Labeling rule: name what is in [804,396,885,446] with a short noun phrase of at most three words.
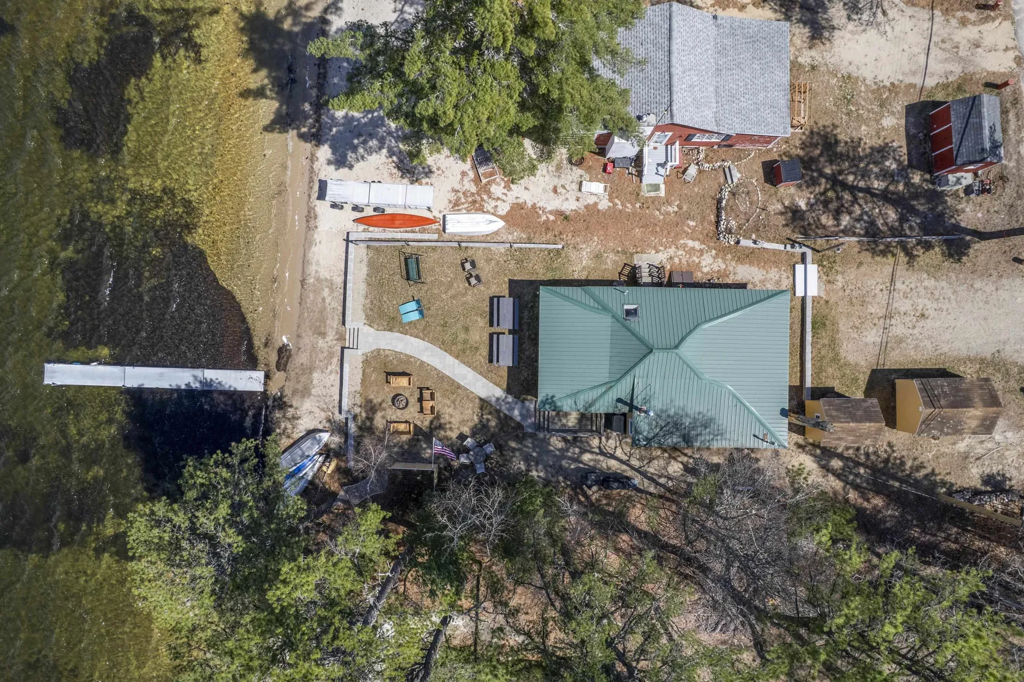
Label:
shed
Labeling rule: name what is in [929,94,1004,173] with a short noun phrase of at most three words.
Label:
shed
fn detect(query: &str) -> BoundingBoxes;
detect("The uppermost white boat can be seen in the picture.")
[443,212,505,235]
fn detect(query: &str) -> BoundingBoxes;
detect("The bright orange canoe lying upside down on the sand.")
[354,213,436,230]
